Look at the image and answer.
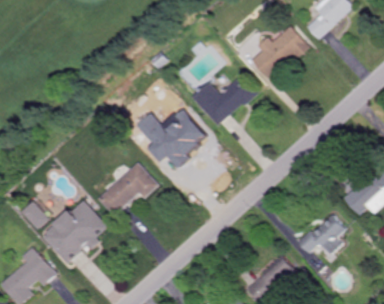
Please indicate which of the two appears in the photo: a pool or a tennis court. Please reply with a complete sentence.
This aerial view contains a pool.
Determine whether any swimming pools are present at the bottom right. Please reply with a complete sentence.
Yes, you'll find a swimming pool at the bottom right.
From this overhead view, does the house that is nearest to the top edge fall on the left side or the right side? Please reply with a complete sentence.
The house that is nearest to the top edge sits on the right side.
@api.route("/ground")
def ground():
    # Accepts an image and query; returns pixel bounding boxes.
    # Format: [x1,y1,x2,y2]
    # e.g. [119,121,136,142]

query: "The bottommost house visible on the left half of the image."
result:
[1,248,58,304]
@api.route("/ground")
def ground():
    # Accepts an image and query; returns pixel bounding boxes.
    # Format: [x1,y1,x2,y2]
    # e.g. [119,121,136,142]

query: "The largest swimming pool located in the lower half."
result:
[38,170,84,219]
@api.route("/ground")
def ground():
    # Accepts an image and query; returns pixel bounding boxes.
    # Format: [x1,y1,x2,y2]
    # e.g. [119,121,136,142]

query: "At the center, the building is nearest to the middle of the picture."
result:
[138,107,210,172]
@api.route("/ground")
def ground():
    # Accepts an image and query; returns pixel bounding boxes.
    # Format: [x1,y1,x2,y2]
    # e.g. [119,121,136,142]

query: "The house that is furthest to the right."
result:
[344,172,384,218]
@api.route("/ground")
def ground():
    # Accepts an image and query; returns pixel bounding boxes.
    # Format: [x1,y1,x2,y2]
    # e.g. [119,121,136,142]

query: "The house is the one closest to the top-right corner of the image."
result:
[308,0,354,40]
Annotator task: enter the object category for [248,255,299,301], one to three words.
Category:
house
